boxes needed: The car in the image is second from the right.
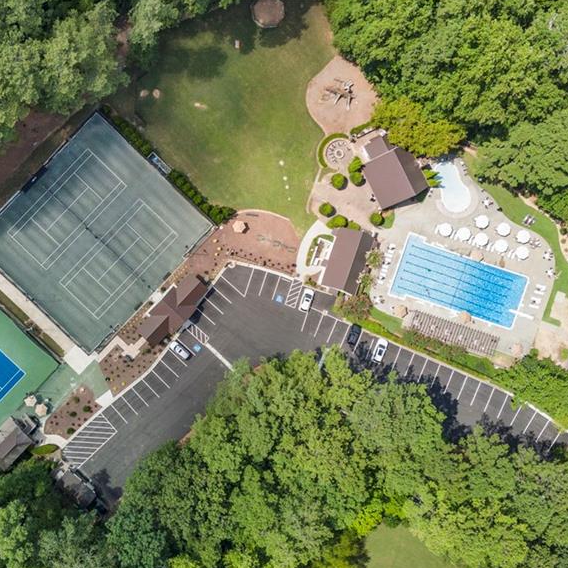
[346,323,361,347]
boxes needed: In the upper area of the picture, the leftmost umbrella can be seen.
[233,220,247,233]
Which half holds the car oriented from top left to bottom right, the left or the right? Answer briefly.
left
